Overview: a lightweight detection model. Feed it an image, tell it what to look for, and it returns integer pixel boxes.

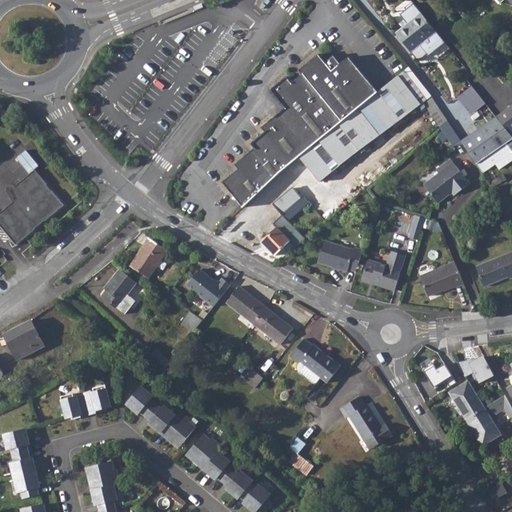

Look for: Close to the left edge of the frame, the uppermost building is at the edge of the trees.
[0,150,63,244]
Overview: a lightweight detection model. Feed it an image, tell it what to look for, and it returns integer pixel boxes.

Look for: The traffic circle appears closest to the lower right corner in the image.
[366,309,416,358]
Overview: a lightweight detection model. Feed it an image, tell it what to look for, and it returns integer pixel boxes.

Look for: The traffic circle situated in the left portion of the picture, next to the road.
[0,0,86,96]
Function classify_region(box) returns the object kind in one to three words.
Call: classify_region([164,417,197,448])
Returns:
house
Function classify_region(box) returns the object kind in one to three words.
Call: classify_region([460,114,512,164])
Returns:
building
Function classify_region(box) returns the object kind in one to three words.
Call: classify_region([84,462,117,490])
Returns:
house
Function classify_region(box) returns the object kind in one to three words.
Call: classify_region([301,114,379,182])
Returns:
building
